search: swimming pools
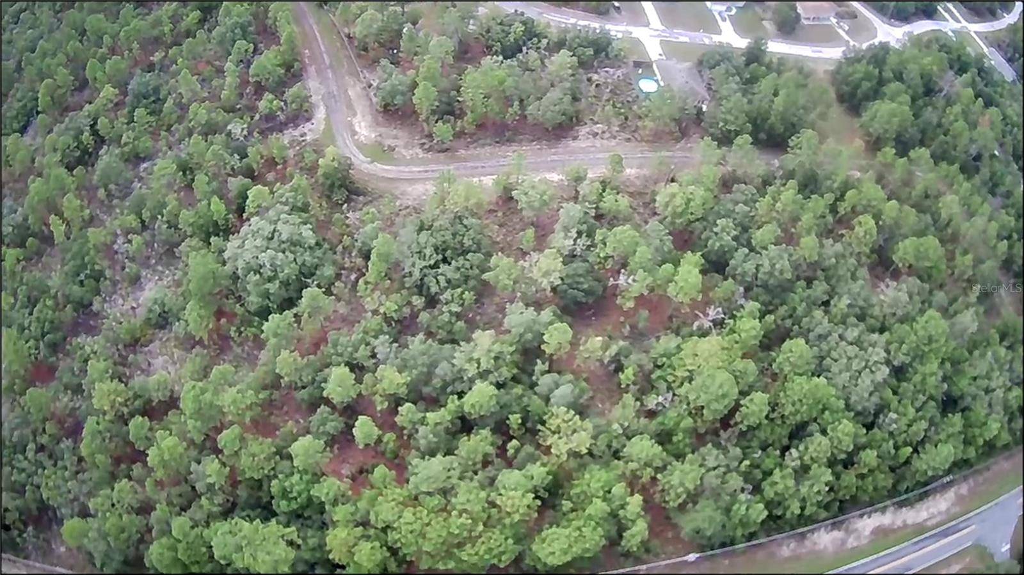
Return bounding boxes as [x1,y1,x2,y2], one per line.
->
[638,76,660,94]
